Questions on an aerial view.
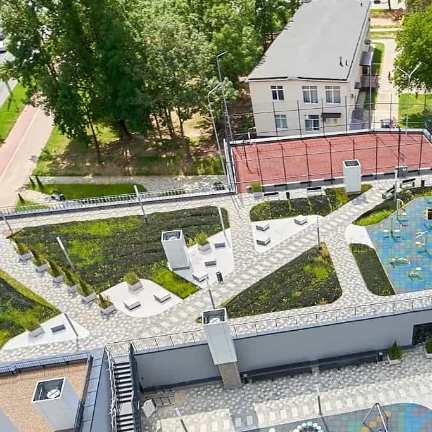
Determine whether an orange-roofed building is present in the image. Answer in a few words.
No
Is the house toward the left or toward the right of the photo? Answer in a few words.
right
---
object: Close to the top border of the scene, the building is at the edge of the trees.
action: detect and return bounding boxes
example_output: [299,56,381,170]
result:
[249,1,375,135]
